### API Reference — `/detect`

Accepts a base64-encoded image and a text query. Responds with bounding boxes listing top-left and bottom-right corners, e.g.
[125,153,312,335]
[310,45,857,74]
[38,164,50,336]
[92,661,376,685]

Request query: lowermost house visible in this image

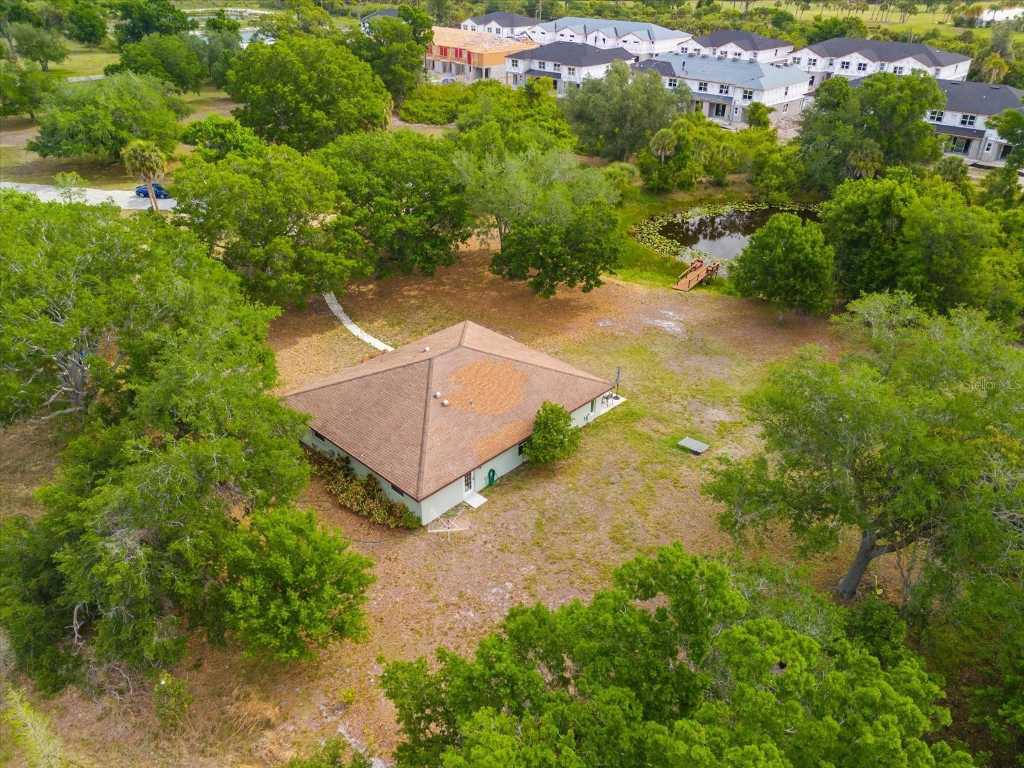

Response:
[284,319,613,526]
